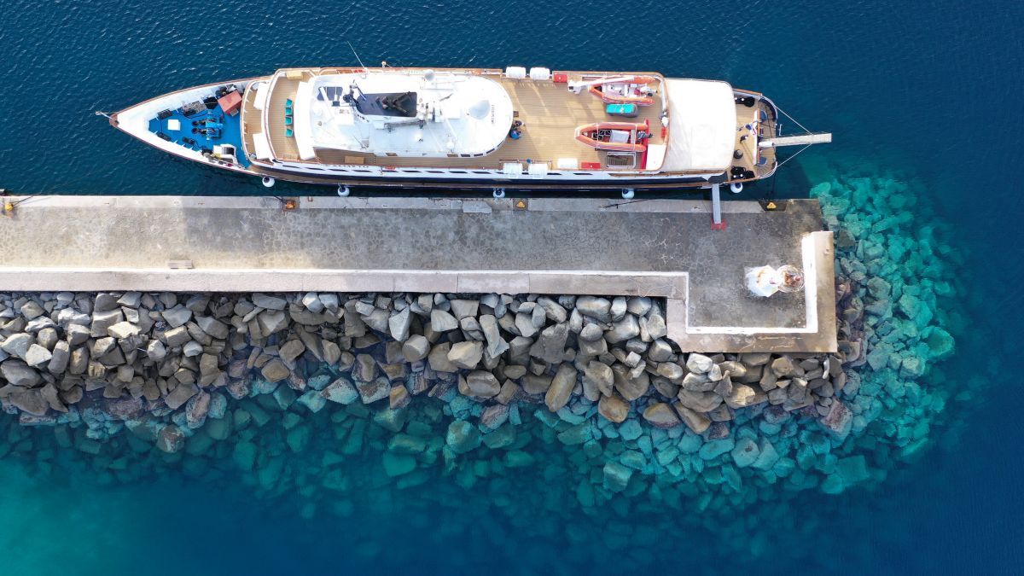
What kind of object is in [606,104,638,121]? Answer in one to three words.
boat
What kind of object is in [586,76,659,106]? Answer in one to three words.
boat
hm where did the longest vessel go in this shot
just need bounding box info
[95,48,832,191]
